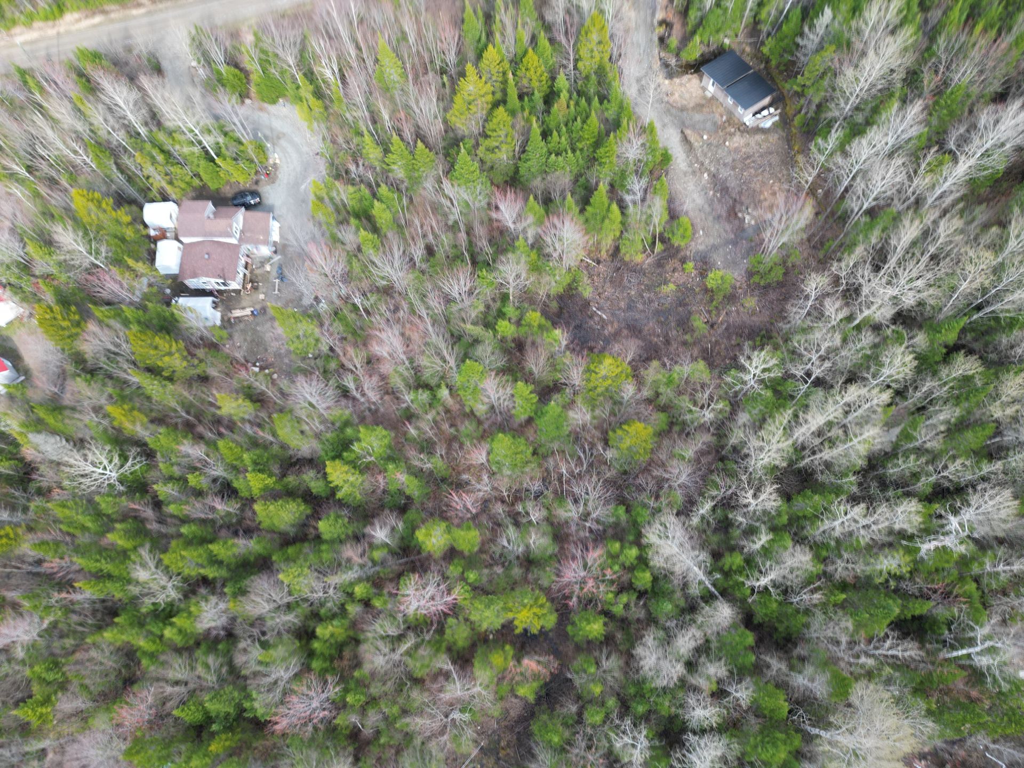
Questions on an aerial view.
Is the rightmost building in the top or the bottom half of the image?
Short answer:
top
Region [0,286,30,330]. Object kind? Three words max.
shed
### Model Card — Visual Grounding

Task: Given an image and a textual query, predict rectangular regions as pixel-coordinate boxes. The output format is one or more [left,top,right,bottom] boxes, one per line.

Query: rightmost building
[700,51,777,123]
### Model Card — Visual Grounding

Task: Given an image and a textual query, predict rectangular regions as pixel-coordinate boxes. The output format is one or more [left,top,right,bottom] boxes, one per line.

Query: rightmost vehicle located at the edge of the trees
[229,189,260,206]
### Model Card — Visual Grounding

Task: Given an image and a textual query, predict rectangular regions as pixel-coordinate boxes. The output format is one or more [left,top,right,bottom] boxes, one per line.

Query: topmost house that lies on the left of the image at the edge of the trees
[171,202,275,290]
